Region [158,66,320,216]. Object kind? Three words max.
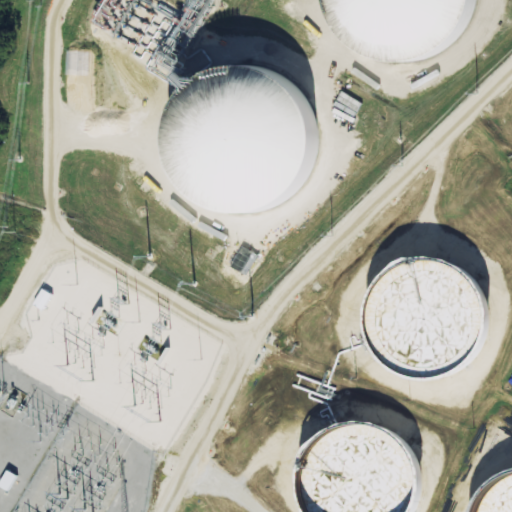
storage tank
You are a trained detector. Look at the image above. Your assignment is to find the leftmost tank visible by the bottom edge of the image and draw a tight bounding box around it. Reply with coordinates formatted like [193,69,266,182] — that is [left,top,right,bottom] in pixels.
[292,418,424,512]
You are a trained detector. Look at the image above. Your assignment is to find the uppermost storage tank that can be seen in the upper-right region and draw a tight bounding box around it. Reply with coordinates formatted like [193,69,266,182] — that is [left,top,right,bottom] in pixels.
[322,0,479,68]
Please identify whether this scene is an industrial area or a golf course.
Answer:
industrial area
